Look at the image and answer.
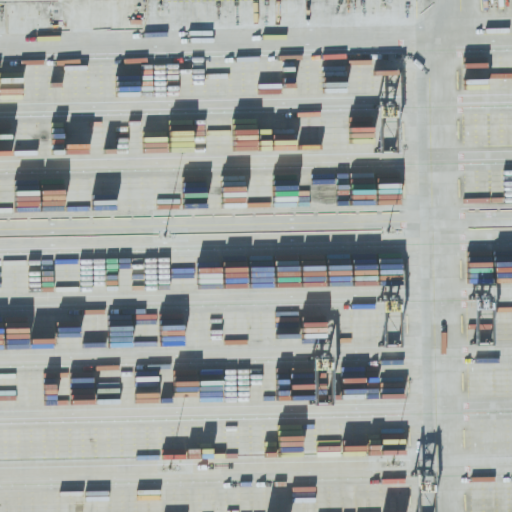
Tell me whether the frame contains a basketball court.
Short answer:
No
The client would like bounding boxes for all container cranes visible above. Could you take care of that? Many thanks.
[374,105,402,155]
[378,298,406,348]
[412,468,438,512]
[470,296,496,346]
[309,357,336,406]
